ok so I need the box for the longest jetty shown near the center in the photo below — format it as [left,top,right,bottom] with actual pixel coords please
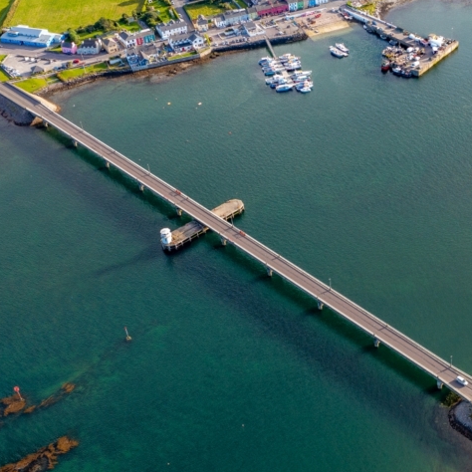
[155,199,247,253]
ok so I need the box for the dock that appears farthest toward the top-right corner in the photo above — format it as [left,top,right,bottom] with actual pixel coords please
[340,4,460,78]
